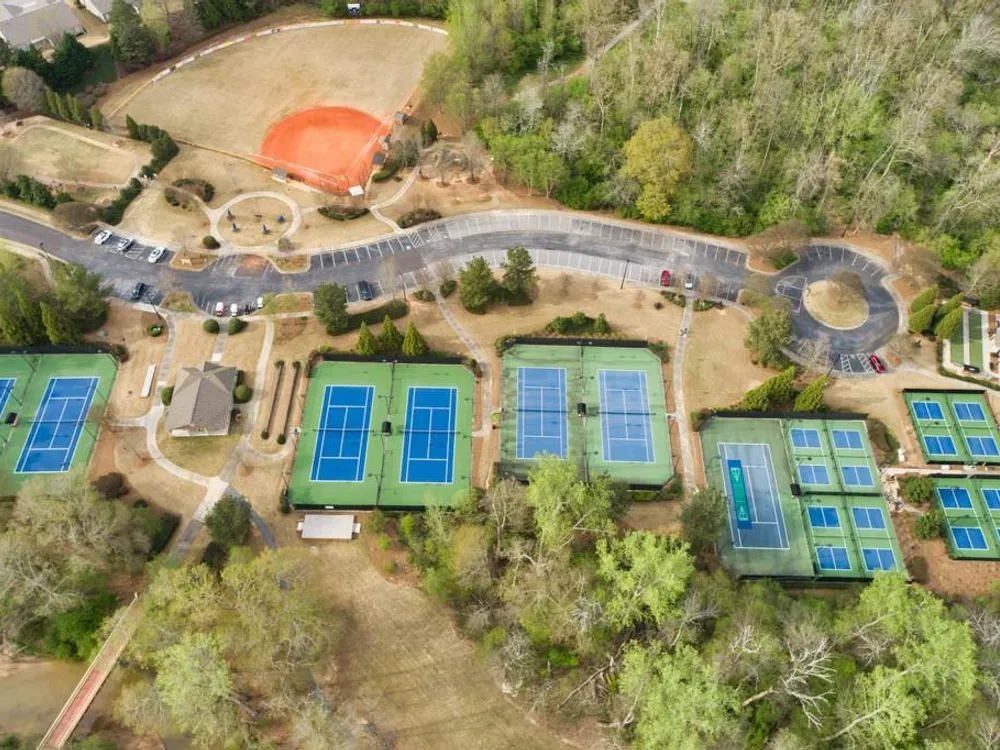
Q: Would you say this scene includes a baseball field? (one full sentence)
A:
Yes, there's a baseball field here.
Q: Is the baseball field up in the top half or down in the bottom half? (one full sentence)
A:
The baseball field sits in the top half of the picture.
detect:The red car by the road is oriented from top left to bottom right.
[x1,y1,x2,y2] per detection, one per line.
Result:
[868,355,886,374]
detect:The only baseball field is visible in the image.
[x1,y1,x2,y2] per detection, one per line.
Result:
[117,24,446,194]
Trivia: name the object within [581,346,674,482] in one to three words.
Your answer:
tennis court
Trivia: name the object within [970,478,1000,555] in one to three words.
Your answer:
sports court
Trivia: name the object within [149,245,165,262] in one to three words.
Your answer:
car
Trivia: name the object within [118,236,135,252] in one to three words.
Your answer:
car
